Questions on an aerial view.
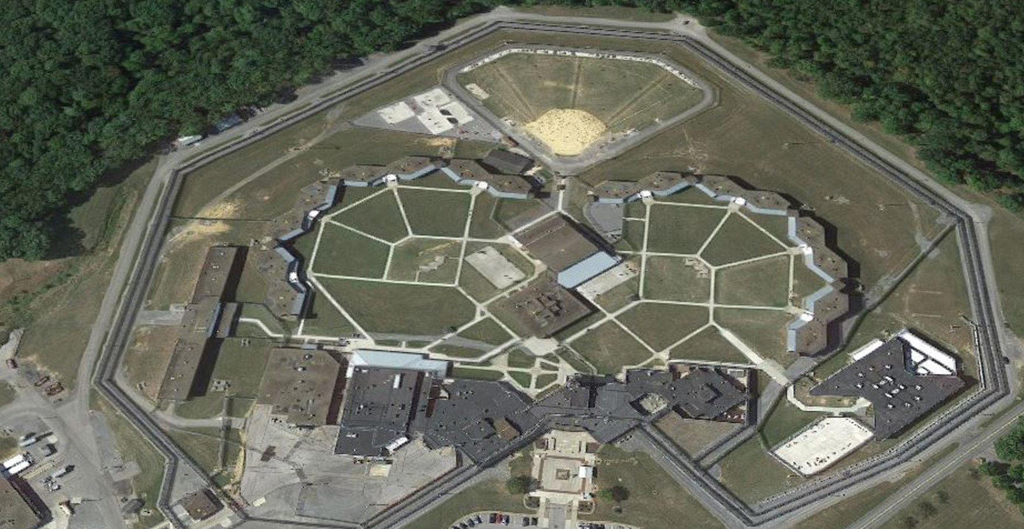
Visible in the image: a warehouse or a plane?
warehouse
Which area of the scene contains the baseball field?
top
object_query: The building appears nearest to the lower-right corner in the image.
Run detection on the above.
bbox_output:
[809,333,965,447]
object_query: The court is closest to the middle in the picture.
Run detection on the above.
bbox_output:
[466,246,526,289]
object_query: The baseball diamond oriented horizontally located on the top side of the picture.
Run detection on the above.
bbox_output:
[454,49,704,158]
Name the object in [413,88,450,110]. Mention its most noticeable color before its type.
white basketball court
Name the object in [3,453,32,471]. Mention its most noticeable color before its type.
white vehicle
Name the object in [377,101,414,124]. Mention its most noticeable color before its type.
white basketball court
